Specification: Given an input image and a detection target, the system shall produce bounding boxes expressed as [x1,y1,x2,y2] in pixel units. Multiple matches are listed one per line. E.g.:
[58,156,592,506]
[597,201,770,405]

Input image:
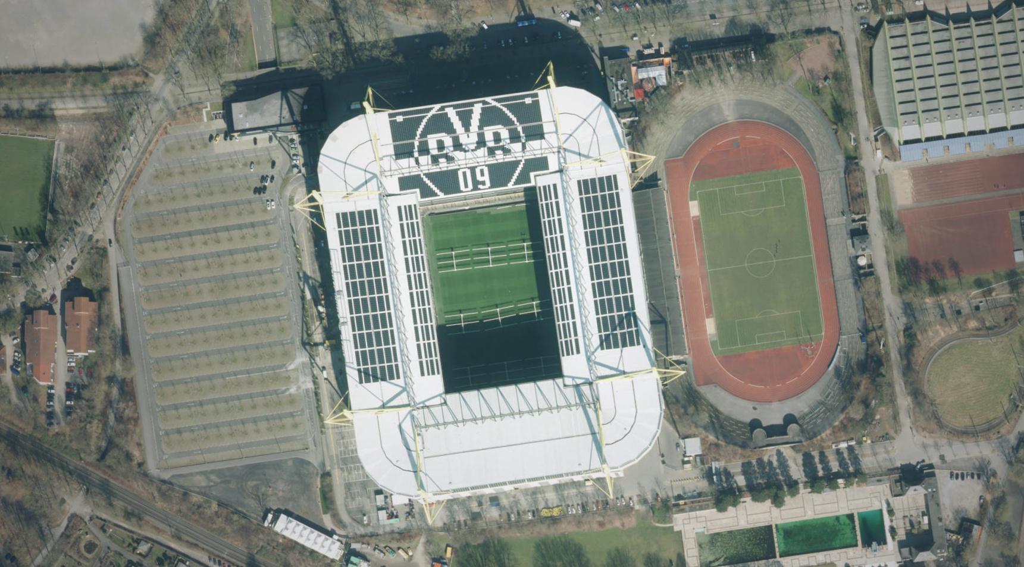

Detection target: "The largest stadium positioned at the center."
[294,60,686,525]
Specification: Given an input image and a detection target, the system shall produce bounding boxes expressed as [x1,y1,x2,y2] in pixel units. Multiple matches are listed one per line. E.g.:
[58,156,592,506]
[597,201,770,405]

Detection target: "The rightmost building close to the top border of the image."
[873,2,1024,163]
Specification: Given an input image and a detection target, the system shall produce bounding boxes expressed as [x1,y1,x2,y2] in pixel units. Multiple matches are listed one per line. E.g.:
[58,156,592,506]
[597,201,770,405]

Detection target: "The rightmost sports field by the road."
[914,306,1024,442]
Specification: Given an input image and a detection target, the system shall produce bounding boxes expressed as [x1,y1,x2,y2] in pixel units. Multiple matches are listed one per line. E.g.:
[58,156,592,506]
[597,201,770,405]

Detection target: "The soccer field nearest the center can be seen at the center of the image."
[421,199,563,393]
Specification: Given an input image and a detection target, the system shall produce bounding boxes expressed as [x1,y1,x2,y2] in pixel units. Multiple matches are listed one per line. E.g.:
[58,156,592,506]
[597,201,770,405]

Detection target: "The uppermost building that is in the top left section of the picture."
[230,86,329,138]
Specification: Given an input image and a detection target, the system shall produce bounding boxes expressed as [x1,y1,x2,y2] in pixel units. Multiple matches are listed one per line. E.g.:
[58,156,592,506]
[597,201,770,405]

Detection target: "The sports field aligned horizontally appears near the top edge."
[0,0,154,68]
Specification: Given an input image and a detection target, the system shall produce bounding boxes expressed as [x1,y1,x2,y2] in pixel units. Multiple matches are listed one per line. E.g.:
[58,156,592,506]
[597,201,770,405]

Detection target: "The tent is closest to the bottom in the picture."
[274,514,342,561]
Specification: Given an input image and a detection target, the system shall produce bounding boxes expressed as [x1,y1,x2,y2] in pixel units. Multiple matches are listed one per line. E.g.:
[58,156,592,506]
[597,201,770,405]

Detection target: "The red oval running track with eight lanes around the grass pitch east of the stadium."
[668,119,839,403]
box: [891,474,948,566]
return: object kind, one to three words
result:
building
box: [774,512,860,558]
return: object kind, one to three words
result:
swimming pool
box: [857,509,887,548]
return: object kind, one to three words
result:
swimming pool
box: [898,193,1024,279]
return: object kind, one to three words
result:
sports court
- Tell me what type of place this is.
sports ground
